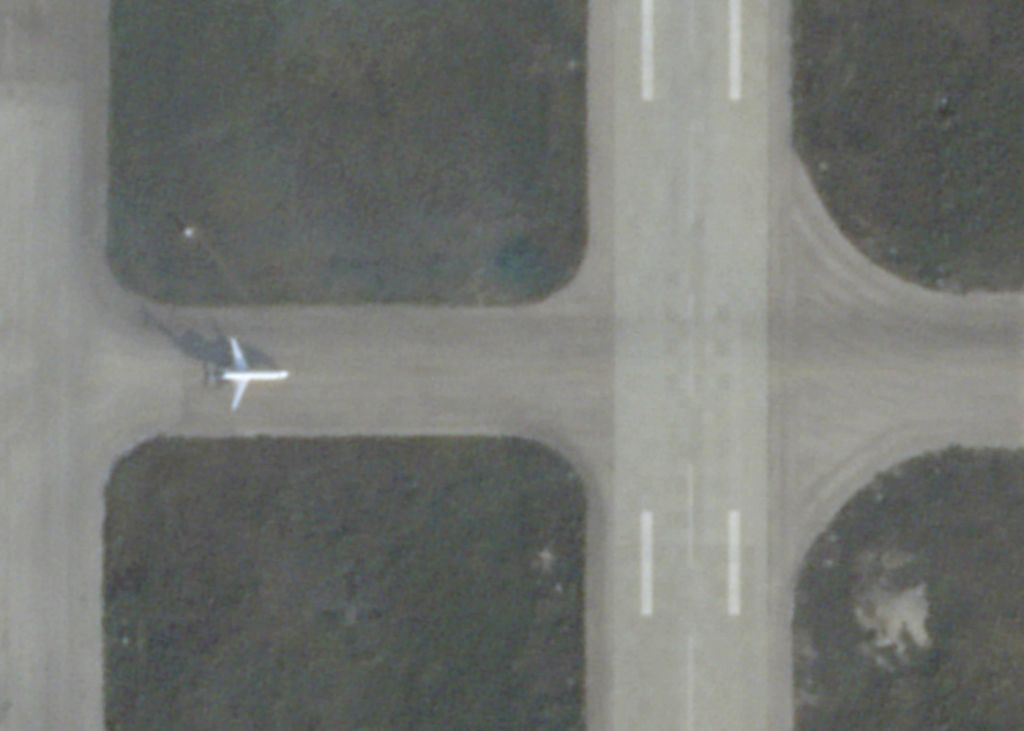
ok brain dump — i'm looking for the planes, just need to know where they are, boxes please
[202,340,288,412]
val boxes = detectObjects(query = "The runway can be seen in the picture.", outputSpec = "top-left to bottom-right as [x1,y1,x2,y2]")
[615,0,767,731]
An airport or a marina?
airport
